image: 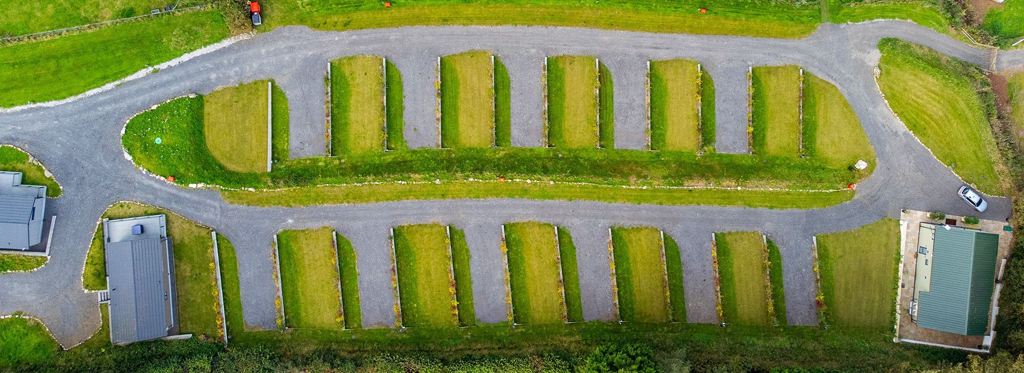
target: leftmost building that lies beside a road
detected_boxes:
[0,172,48,250]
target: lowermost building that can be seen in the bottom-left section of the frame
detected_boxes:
[100,214,176,344]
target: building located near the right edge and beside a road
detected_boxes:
[910,223,999,336]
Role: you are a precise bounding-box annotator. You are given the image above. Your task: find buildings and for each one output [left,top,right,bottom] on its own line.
[910,223,999,336]
[0,172,48,250]
[100,214,176,344]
